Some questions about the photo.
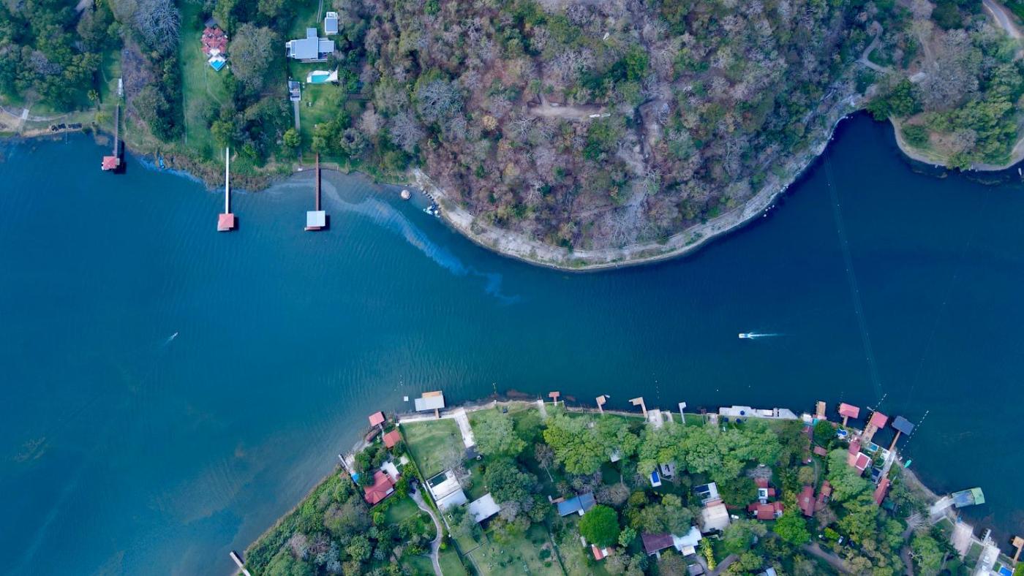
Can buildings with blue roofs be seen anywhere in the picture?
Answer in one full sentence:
Yes, this view includes a building with a blue roof.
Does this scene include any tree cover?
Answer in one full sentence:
Yes, there is tree cover in the image.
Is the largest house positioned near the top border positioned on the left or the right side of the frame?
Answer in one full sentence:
The largest house positioned near the top border sits on the left side.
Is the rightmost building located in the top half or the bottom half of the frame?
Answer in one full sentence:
Seen from above, the rightmost building lies in the bottom half of the view.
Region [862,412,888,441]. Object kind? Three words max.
pier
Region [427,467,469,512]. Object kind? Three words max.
building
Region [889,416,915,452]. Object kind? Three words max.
pier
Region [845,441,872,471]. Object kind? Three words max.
house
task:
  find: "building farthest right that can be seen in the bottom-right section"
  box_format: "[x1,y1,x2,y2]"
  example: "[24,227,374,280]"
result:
[950,486,985,507]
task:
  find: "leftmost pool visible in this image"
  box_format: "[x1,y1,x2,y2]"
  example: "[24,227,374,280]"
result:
[209,56,226,71]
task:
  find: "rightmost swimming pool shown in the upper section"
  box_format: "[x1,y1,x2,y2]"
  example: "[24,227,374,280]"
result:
[307,66,338,83]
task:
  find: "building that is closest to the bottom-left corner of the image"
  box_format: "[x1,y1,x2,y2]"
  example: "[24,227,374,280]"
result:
[364,470,397,504]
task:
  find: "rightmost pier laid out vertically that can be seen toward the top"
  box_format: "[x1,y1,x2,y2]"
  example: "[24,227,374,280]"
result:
[305,153,326,231]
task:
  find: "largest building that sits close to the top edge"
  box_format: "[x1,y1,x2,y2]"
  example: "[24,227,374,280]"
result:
[286,27,337,63]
